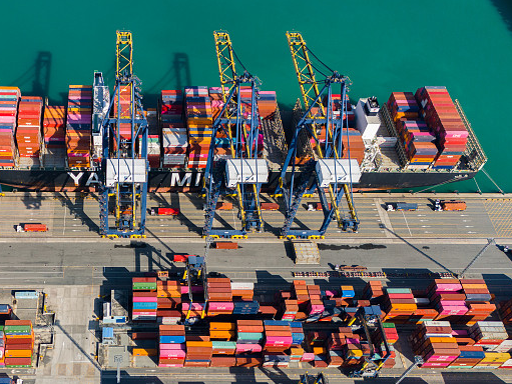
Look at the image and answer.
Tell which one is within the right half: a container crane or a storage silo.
container crane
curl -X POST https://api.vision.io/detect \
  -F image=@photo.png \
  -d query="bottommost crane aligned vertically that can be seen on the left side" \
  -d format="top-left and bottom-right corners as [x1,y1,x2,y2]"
[181,254,209,322]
